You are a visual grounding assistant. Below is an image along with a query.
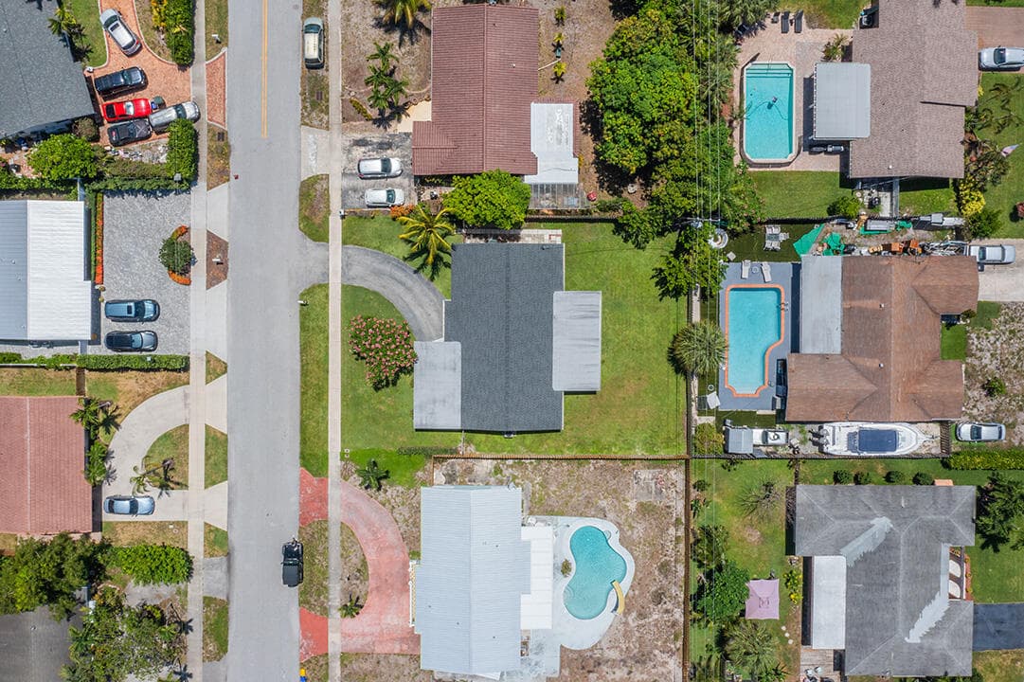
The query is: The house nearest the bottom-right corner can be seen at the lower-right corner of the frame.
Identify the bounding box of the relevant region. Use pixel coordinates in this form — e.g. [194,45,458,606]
[790,486,976,677]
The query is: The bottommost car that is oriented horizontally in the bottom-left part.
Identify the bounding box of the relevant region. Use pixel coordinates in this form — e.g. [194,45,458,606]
[104,494,156,518]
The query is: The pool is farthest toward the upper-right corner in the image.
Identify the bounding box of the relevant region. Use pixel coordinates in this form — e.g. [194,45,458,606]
[742,57,796,162]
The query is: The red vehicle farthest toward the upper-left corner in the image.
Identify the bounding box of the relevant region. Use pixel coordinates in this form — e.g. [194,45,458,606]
[102,97,154,124]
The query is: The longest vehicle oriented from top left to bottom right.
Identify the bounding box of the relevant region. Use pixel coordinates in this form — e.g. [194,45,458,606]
[100,8,144,58]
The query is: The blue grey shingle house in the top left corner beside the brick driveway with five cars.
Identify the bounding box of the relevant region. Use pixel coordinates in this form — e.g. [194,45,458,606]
[0,0,102,144]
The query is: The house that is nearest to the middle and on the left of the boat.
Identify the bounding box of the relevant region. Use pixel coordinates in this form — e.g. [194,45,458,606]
[413,242,602,438]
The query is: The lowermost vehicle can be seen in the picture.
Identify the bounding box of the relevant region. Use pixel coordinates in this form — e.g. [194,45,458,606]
[281,540,305,588]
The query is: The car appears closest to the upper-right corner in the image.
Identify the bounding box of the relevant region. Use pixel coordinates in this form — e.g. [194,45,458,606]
[978,46,1024,72]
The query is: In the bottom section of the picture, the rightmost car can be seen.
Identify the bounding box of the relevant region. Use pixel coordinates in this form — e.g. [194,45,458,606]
[953,420,1007,444]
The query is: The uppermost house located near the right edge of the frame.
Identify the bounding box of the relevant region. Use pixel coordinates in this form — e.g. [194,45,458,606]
[806,0,980,213]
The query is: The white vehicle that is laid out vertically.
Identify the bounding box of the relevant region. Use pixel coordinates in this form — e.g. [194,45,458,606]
[300,18,326,70]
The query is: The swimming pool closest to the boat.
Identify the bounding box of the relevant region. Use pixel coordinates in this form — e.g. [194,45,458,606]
[727,286,788,395]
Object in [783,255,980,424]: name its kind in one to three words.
house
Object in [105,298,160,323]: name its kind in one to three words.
car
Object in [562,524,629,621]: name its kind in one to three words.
swimming pool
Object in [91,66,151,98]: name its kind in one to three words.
truck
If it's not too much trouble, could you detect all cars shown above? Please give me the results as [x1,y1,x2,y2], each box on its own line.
[978,46,1024,72]
[104,329,158,353]
[102,97,154,124]
[967,242,1017,265]
[281,540,305,588]
[100,8,144,58]
[105,298,160,323]
[147,100,203,132]
[104,494,156,518]
[357,155,403,180]
[106,119,155,147]
[364,185,406,208]
[300,18,326,70]
[953,420,1007,444]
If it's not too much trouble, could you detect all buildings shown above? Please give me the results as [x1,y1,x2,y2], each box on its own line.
[415,472,553,679]
[0,182,93,353]
[0,397,102,540]
[806,0,980,213]
[720,426,753,454]
[413,242,602,438]
[411,1,590,212]
[783,255,980,424]
[790,486,976,677]
[0,0,102,144]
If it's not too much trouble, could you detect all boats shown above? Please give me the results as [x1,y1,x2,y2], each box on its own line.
[815,423,931,455]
